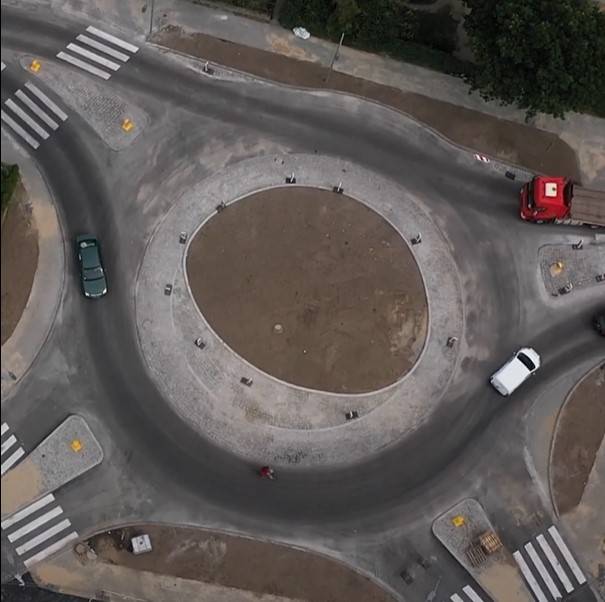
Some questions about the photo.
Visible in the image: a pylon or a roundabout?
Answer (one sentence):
There is a roundabout in the scene.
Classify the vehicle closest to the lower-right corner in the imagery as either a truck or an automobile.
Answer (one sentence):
The vehicle closest to the lower-right corner is an automobile.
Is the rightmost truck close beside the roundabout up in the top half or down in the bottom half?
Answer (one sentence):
You can find the rightmost truck close beside the roundabout in the top half.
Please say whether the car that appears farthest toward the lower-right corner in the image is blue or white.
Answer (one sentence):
The car that appears farthest toward the lower-right corner is white.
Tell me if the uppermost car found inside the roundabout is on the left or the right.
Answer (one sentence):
The uppermost car found inside the roundabout appears in the left half of the scene.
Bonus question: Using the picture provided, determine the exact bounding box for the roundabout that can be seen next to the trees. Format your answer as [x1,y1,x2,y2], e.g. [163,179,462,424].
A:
[56,80,541,552]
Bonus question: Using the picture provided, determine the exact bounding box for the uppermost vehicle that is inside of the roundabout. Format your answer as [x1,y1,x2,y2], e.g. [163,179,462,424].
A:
[75,234,108,300]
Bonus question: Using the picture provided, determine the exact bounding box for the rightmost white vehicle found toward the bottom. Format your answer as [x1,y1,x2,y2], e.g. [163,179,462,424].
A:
[490,349,539,398]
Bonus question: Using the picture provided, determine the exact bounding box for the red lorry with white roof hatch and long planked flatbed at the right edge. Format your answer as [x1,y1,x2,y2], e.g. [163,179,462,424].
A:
[522,173,605,226]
